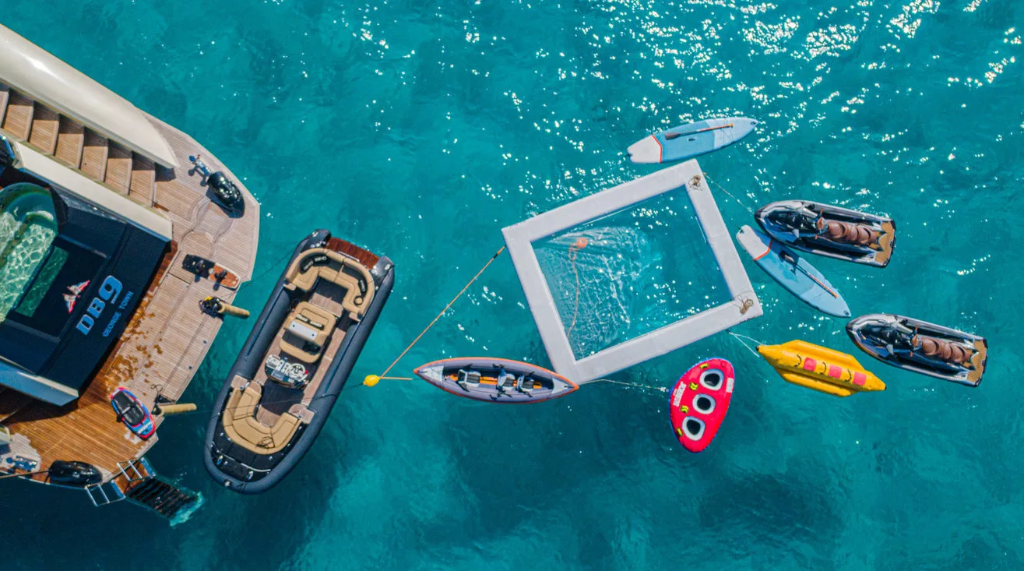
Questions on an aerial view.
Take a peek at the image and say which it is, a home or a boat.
boat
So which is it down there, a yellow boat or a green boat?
yellow boat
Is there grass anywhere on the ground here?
No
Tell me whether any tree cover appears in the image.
No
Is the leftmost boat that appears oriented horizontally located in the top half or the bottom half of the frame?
bottom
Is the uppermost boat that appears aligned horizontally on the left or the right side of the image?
right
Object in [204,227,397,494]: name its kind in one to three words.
boat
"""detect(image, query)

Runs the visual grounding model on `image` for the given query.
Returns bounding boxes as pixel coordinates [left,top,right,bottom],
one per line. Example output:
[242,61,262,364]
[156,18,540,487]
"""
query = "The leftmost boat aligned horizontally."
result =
[410,353,581,402]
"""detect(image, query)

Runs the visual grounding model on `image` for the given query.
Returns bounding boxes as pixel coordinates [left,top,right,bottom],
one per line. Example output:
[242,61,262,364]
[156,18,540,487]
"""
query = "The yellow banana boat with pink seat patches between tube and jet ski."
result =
[758,338,890,396]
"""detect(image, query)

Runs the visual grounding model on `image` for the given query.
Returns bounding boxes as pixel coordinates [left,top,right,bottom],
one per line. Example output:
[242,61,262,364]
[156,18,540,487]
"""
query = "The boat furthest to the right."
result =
[841,316,992,389]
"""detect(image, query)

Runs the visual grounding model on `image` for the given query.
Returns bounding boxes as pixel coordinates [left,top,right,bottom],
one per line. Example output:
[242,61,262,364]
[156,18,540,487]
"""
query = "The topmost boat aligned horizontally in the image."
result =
[751,202,900,272]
